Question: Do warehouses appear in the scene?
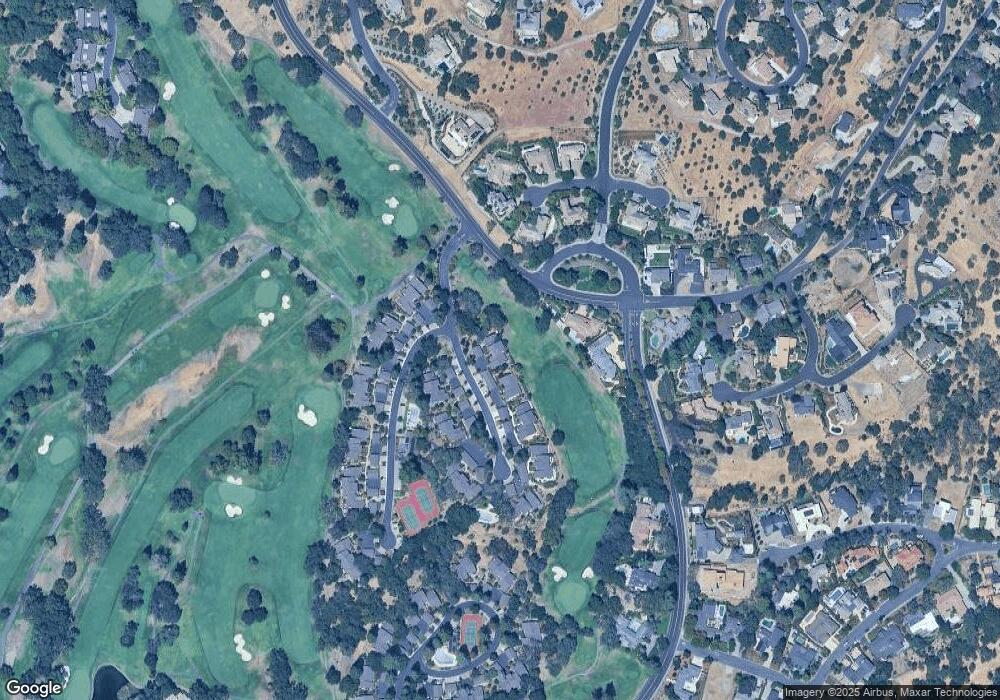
No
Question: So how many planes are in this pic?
0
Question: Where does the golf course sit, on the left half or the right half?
left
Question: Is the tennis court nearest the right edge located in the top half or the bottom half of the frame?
bottom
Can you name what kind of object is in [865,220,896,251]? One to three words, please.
house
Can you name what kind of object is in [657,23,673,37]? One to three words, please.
swimming pool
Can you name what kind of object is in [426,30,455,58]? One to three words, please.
house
